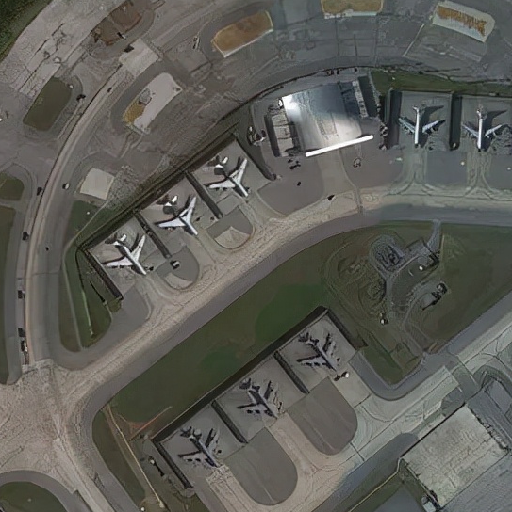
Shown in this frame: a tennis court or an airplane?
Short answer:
airplane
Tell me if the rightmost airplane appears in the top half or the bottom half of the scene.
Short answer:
top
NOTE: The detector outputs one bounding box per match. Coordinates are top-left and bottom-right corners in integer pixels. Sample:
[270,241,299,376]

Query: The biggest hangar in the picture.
[280,83,372,156]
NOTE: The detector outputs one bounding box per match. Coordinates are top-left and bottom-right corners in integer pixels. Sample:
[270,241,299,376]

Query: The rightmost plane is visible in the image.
[460,110,500,150]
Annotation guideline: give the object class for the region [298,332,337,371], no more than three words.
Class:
airplane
